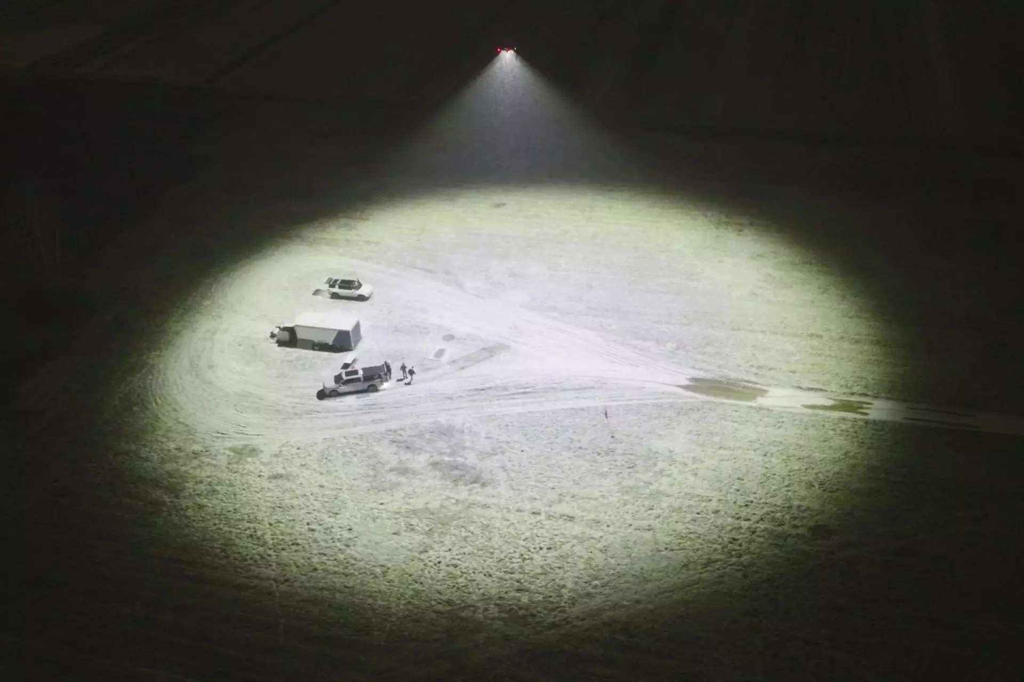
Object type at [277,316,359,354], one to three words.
trailer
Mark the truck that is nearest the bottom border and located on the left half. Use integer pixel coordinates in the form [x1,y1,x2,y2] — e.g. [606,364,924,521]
[320,363,389,399]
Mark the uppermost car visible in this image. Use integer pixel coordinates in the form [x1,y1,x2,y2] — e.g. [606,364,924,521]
[323,274,375,302]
